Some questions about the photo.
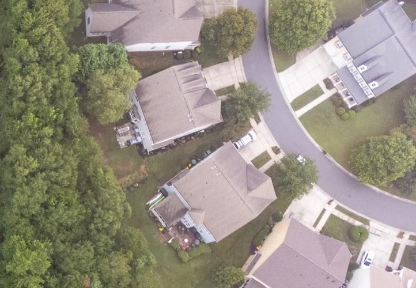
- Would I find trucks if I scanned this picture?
No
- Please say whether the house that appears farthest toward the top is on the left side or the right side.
left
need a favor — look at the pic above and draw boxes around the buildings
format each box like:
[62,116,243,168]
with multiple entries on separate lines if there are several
[237,217,353,288]
[127,61,224,153]
[346,265,416,288]
[85,0,204,51]
[151,141,278,243]
[323,0,416,107]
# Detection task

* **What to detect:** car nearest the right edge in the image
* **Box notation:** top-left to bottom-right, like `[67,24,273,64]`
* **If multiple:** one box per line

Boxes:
[358,247,376,268]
